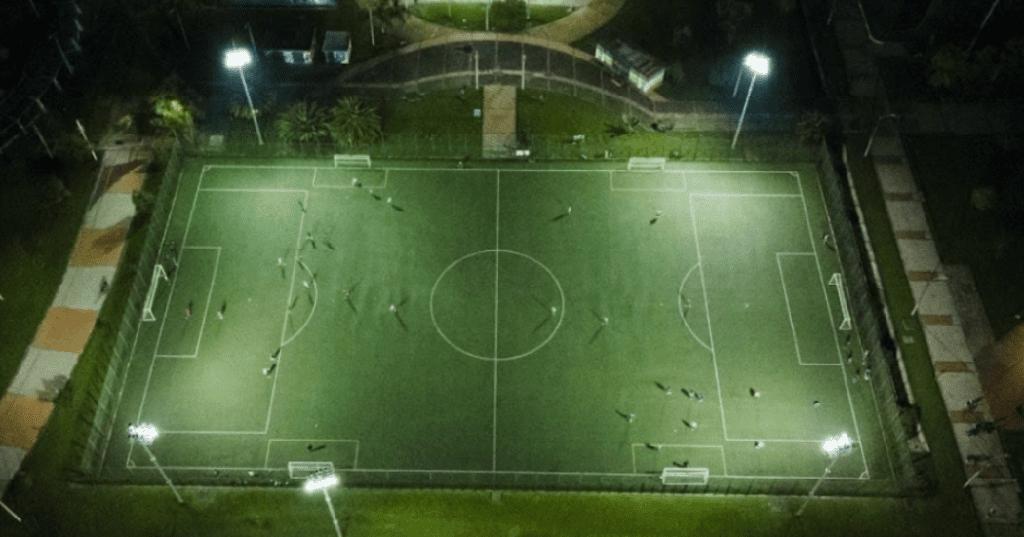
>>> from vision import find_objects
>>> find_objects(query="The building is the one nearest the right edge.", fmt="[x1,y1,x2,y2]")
[594,28,669,90]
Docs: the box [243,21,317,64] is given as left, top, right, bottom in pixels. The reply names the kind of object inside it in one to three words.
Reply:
building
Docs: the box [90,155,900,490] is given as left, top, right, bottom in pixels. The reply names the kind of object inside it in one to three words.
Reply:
soccer field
